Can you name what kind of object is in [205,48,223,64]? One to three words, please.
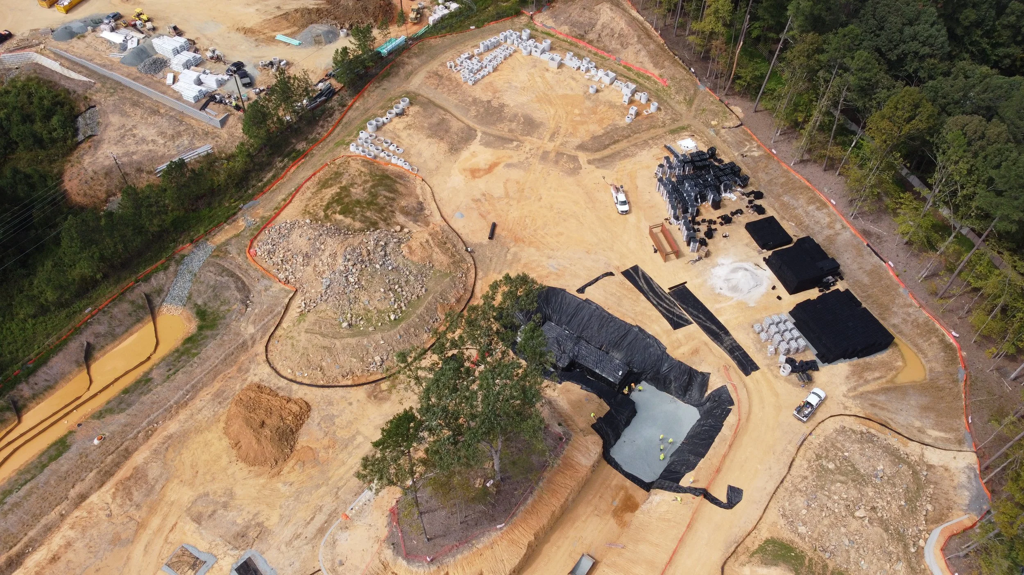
work vehicle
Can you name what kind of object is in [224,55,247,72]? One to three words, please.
vehicle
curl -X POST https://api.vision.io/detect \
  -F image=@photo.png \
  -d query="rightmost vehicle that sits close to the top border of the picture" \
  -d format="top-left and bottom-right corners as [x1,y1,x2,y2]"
[407,3,424,20]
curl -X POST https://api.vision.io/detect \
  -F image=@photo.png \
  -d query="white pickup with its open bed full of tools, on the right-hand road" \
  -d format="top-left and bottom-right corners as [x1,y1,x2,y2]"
[797,386,825,421]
